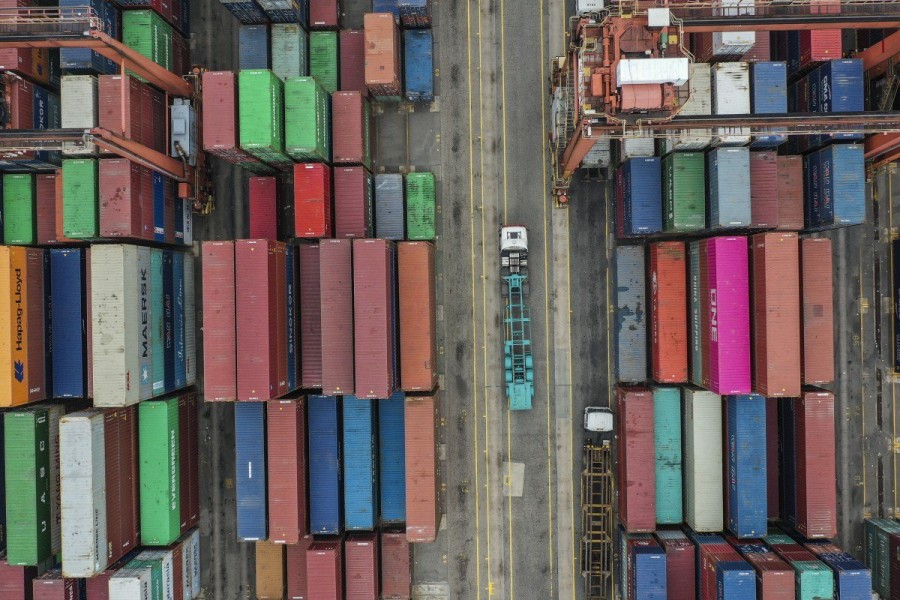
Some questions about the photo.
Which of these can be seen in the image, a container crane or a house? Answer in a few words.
container crane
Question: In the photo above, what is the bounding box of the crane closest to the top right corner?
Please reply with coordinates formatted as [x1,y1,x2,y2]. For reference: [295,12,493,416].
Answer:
[545,0,900,211]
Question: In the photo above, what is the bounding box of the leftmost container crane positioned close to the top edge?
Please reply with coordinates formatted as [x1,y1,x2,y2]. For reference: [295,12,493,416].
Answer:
[0,11,211,217]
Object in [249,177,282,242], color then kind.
red shipping container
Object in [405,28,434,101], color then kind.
blue shipping container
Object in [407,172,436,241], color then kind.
green shipping container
